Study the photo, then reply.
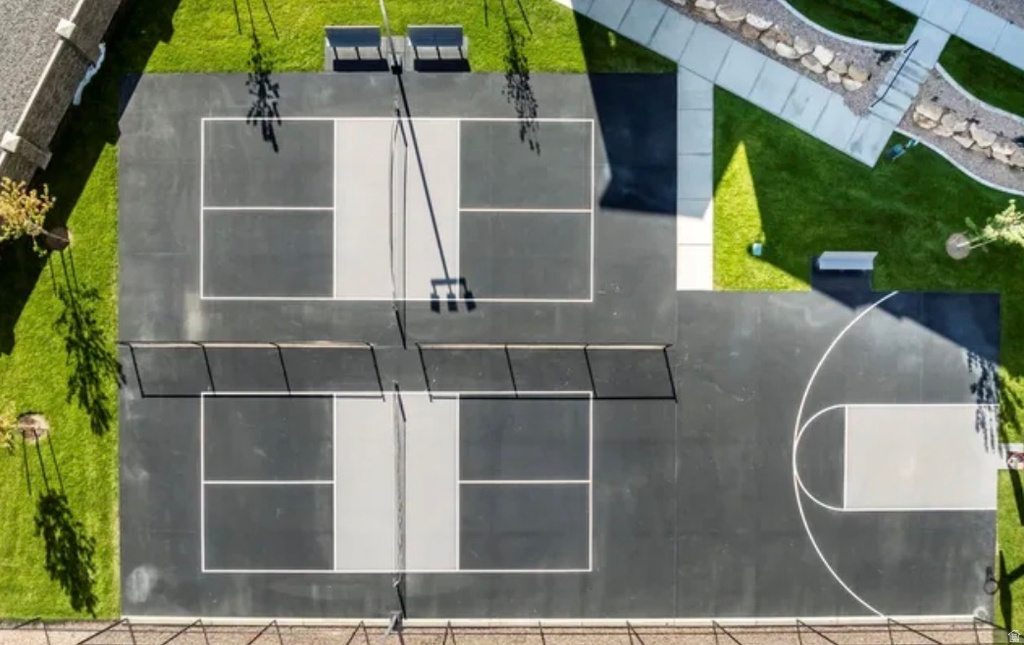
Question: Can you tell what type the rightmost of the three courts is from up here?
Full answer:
Looking closely, the rightmost of the three courts is a basketball court.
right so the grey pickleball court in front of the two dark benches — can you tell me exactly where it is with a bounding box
[200,118,594,302]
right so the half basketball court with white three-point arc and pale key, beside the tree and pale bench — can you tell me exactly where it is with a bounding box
[677,293,999,617]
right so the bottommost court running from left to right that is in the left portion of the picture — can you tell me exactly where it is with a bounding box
[201,392,592,572]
